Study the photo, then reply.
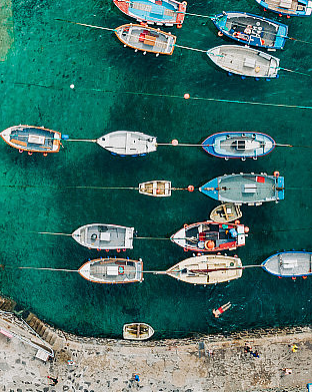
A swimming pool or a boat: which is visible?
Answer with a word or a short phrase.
boat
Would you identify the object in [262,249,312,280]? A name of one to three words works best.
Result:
boat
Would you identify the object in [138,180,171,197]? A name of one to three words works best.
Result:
boat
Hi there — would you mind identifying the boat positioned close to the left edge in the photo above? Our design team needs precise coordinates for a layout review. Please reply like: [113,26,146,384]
[0,124,70,155]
